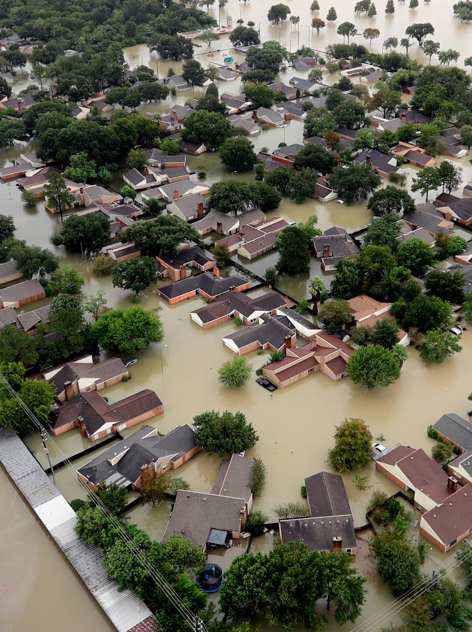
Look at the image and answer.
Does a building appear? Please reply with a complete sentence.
Yes, this view includes a building.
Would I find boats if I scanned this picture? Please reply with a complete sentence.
No, there isn't any boat down there.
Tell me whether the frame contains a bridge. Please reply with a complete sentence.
No, no bridge can be seen from above.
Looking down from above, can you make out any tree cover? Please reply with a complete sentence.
Yes, the picture does contain tree cover.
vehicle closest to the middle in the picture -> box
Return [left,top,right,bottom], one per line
[250,378,277,395]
